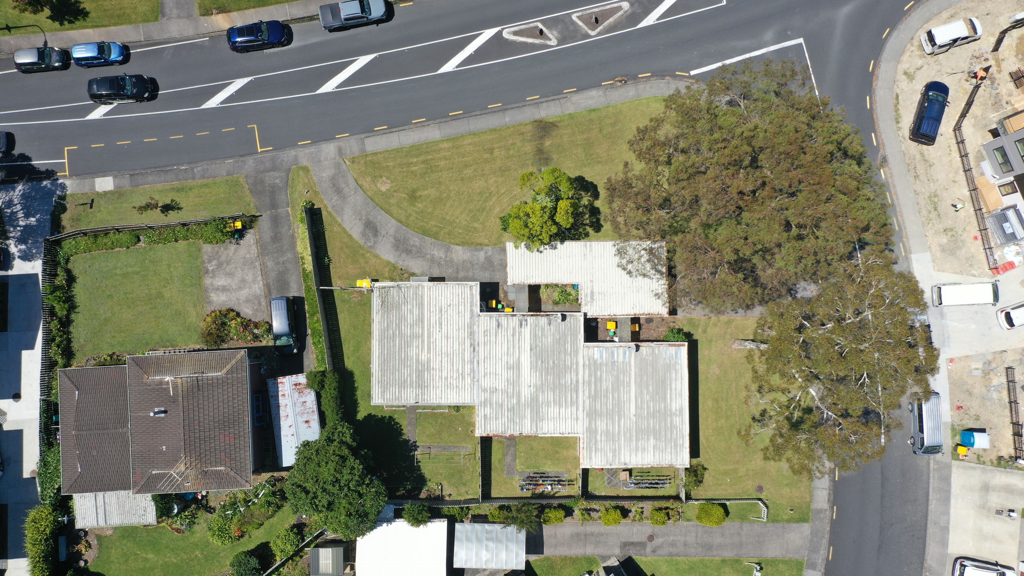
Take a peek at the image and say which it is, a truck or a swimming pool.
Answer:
truck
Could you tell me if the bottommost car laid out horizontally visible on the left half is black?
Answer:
Yes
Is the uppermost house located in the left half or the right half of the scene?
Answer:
right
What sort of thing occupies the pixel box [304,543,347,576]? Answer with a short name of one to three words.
shed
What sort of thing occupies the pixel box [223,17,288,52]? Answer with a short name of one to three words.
car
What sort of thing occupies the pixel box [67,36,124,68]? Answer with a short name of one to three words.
car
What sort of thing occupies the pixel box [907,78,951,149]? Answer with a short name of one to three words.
truck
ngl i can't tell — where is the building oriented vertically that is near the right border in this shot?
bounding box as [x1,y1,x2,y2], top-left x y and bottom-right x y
[979,111,1024,207]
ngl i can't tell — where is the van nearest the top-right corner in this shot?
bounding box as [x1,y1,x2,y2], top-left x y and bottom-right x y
[918,13,985,57]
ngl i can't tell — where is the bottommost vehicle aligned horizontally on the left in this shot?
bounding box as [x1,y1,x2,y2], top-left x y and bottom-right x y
[82,70,151,105]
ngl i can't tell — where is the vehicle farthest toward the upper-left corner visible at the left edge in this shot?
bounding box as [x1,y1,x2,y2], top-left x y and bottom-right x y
[8,42,65,73]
